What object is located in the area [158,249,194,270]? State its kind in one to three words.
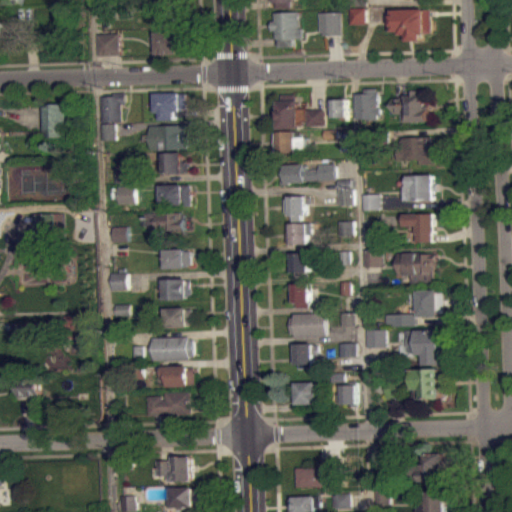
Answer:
house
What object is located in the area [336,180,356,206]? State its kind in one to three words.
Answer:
building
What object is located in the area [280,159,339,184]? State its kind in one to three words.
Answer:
house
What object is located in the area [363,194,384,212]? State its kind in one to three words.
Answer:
building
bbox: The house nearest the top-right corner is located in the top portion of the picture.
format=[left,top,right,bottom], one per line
[386,9,436,42]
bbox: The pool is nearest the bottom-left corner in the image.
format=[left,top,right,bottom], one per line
[147,488,166,501]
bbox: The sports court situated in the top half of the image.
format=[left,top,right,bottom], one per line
[8,167,65,202]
